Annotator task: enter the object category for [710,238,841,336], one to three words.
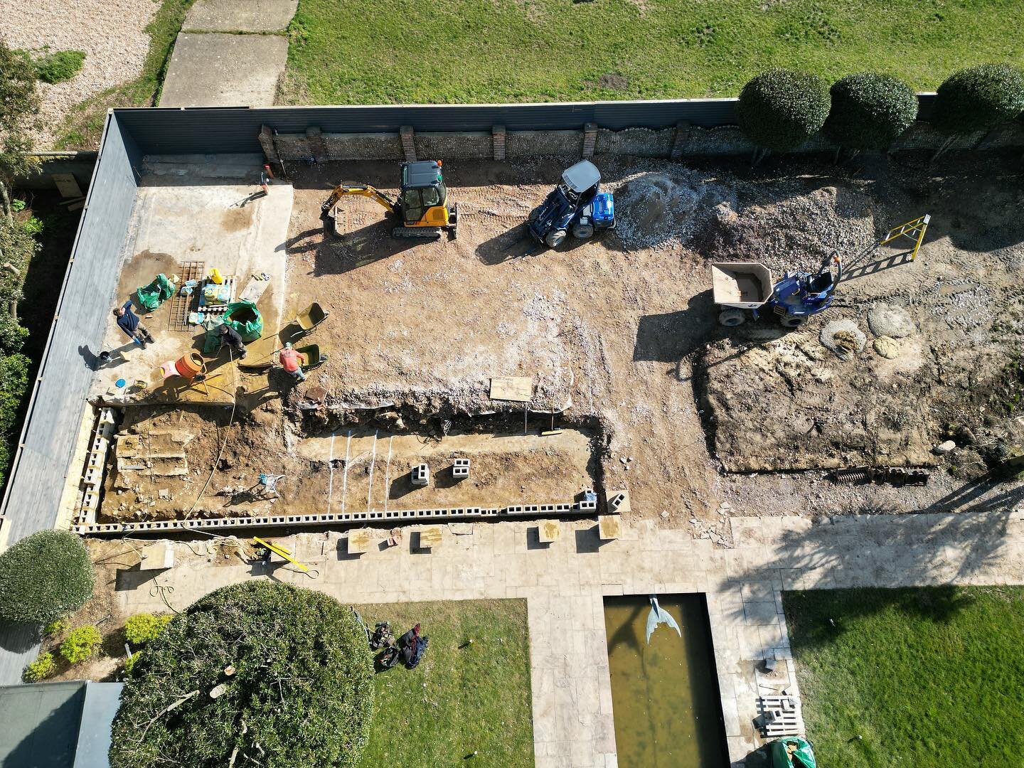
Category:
truck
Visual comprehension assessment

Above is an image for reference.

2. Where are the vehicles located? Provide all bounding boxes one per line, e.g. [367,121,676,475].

[326,157,465,239]
[499,154,619,270]
[710,238,841,336]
